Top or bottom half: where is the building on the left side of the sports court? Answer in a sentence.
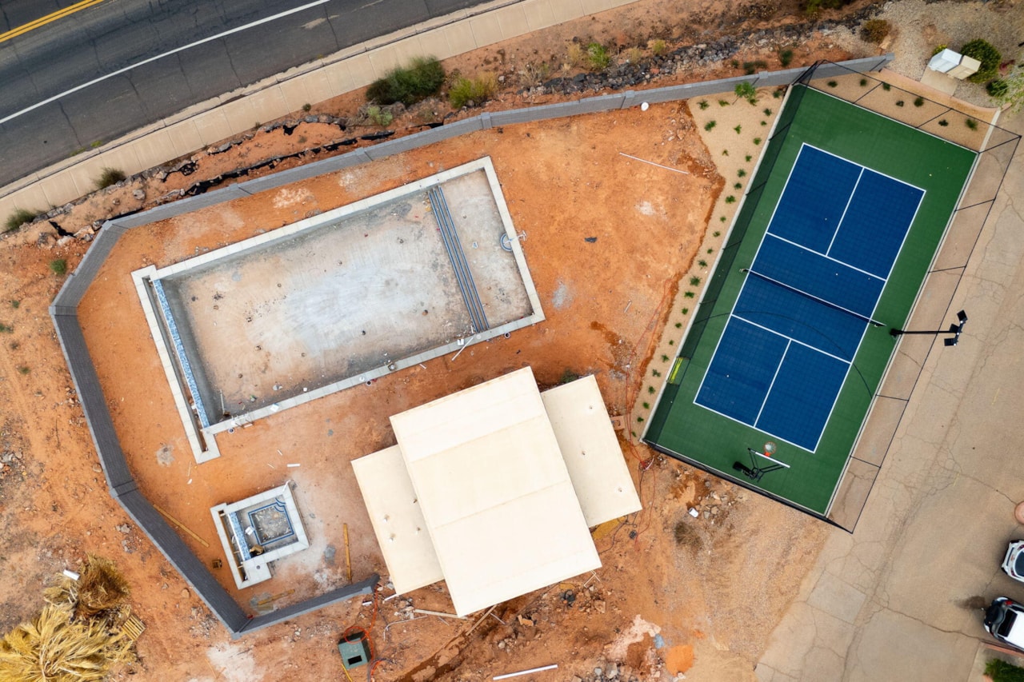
The building on the left side of the sports court is in the bottom half of the image.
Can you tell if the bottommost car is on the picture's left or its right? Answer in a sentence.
You can find the bottommost car on the right side of the picture.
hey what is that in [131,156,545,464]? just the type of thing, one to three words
swimming pool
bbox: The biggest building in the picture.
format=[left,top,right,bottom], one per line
[351,366,642,618]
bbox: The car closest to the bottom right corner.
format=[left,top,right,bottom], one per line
[978,593,1024,650]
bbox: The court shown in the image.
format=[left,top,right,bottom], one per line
[637,86,985,517]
